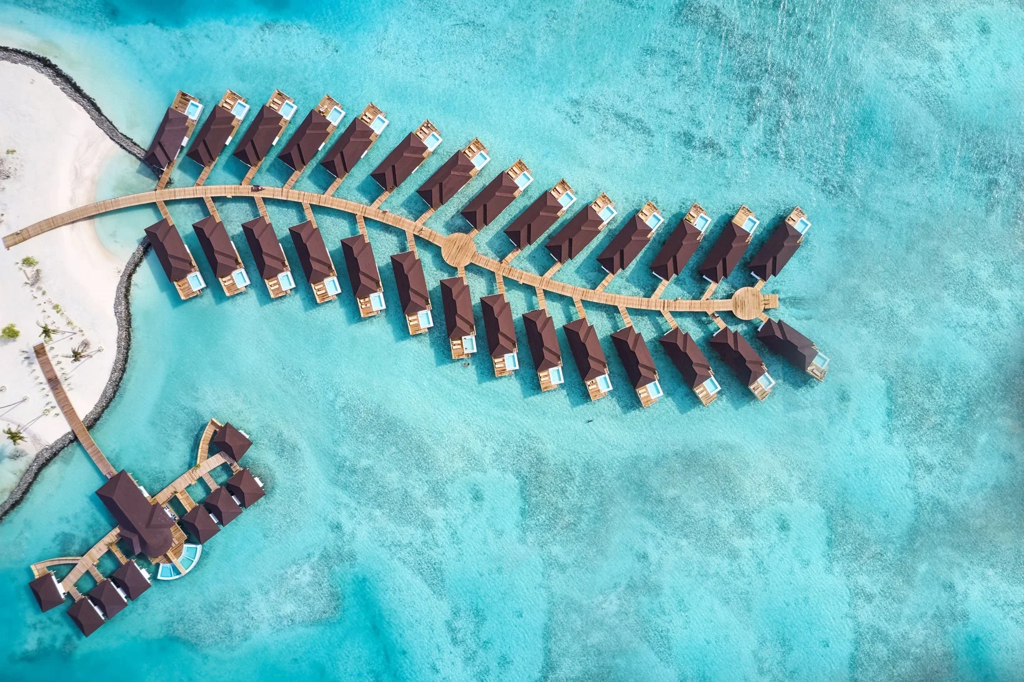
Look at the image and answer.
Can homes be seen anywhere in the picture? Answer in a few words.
Yes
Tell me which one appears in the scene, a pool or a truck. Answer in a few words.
pool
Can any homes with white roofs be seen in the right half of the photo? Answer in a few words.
No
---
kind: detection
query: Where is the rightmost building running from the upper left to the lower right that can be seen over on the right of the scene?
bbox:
[754,318,828,385]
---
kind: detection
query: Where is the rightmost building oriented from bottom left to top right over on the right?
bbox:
[745,205,808,281]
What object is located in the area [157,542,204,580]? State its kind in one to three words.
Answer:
swimming pool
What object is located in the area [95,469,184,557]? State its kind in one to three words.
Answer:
building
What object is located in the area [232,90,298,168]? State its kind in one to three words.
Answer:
house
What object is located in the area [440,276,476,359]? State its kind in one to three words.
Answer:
house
